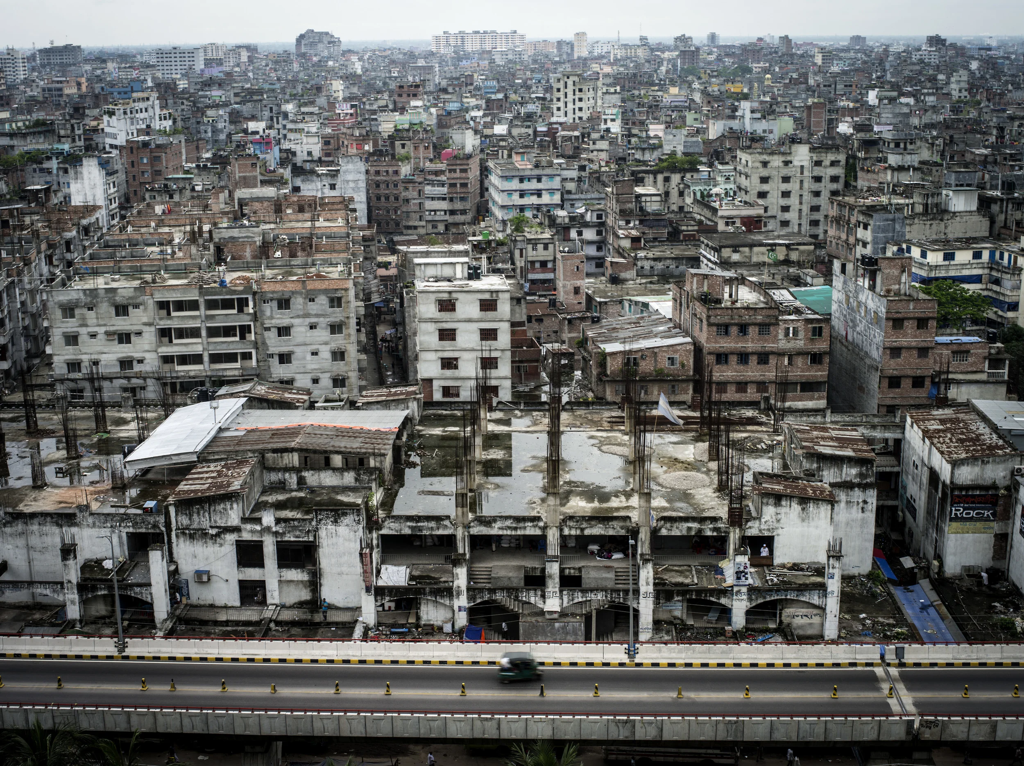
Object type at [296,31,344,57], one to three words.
building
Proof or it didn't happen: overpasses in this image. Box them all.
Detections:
[0,633,1024,766]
